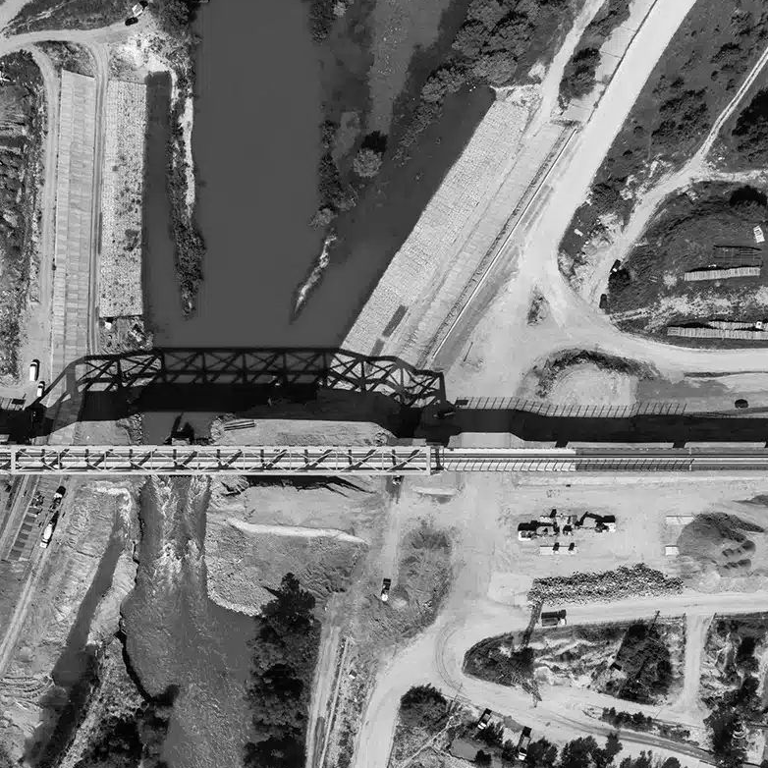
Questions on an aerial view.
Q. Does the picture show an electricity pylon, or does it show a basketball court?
electricity pylon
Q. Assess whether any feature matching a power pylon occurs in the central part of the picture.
No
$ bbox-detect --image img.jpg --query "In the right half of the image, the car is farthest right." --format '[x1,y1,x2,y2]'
[733,397,750,411]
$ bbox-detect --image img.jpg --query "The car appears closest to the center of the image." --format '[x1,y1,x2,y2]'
[389,474,404,488]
